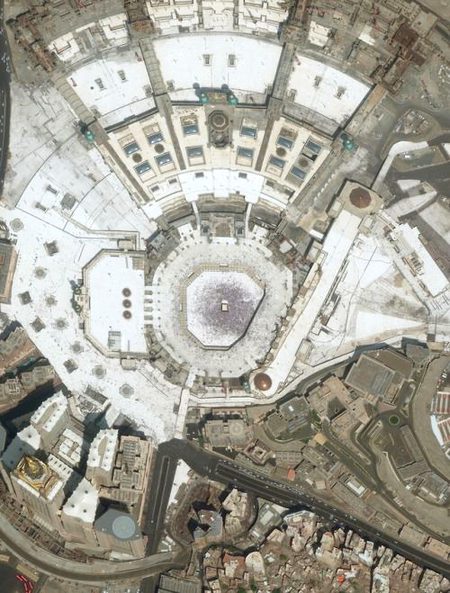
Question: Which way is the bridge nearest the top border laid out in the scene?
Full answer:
In this picture, the bridge nearest the top border lies diagonally.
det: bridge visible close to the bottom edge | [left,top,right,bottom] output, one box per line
[0,511,189,572]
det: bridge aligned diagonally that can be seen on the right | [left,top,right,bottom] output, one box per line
[370,139,433,189]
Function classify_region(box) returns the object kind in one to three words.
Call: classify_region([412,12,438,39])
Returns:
shed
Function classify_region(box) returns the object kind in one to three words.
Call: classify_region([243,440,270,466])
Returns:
house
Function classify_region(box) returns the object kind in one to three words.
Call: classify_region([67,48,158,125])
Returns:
building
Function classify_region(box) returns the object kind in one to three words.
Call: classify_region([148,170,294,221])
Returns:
building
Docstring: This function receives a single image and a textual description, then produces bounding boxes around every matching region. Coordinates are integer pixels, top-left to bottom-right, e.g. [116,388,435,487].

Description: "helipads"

[112,516,136,540]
